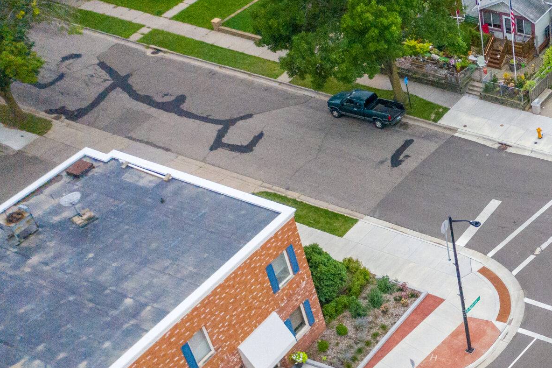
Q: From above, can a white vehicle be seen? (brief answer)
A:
No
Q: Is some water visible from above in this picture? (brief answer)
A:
No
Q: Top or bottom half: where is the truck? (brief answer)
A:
top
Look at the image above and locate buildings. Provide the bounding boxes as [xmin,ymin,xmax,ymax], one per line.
[461,0,552,63]
[0,147,323,368]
